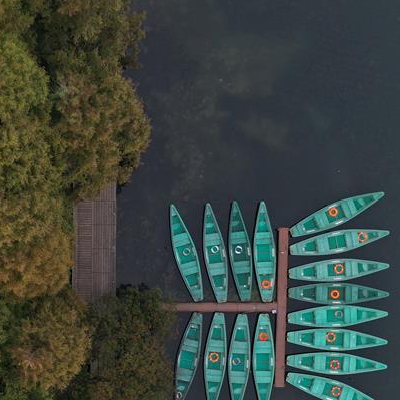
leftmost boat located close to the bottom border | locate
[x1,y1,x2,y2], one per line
[175,311,203,400]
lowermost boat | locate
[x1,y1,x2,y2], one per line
[284,372,375,400]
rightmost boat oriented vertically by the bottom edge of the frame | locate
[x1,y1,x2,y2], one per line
[253,309,275,400]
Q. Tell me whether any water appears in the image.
Yes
